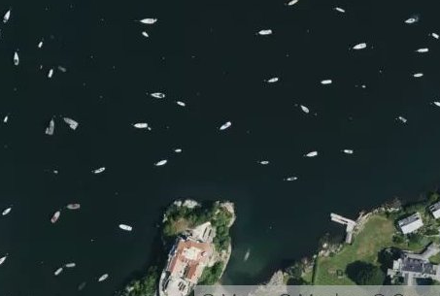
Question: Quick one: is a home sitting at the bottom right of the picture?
Yes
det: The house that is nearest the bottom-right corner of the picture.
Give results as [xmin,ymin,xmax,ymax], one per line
[389,258,438,291]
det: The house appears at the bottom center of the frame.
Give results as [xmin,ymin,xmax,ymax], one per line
[164,237,216,296]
